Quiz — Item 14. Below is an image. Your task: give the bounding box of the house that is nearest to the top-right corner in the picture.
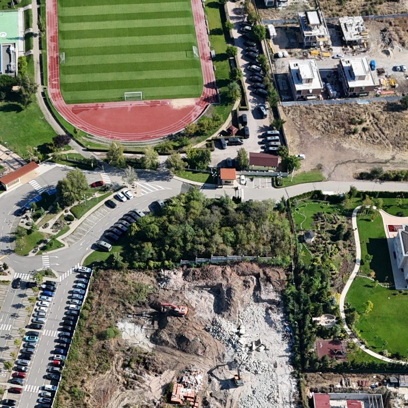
[337,16,368,52]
